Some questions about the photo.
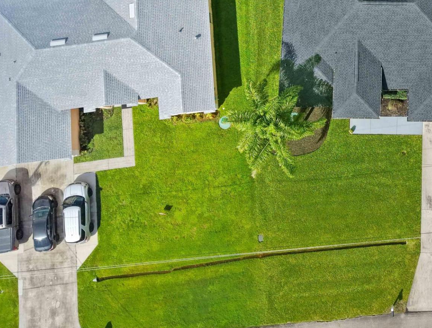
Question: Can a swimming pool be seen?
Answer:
No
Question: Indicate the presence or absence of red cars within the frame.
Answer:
No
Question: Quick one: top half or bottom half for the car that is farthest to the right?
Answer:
bottom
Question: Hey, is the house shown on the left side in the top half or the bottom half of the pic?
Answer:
top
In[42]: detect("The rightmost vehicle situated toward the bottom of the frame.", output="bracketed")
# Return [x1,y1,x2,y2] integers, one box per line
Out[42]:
[59,183,93,244]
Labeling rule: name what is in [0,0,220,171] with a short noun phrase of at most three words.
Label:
house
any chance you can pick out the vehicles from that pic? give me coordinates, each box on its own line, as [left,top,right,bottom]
[59,183,93,244]
[0,180,20,254]
[29,195,61,253]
